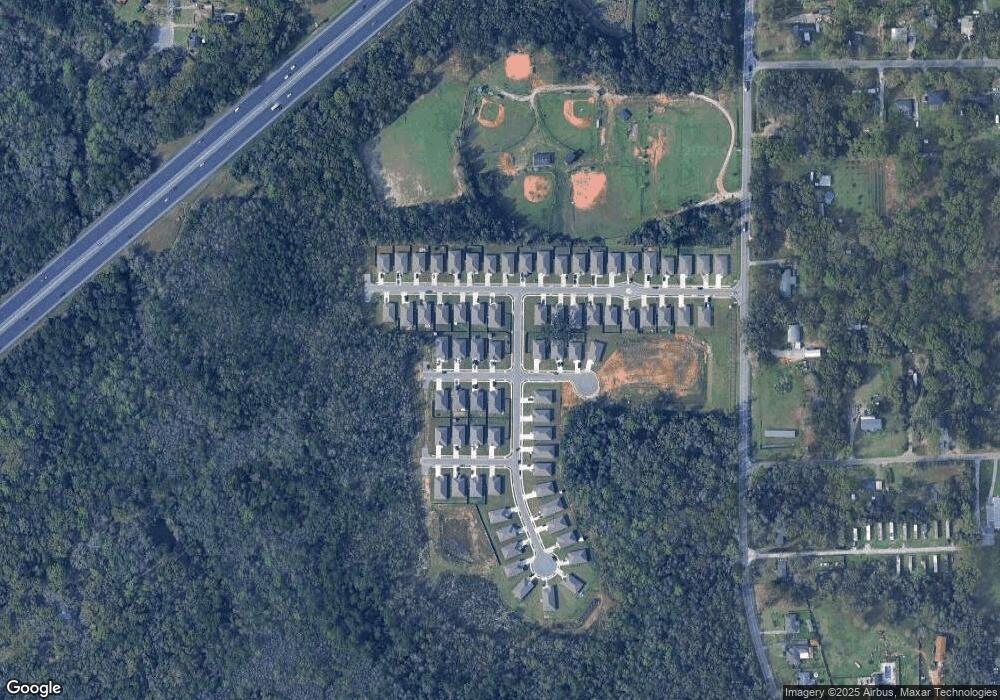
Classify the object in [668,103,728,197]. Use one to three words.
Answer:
sports field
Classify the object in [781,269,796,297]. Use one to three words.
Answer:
house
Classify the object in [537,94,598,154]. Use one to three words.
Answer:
baseball field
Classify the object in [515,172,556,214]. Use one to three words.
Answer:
baseball field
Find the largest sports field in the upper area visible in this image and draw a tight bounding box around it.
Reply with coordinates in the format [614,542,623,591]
[384,80,468,205]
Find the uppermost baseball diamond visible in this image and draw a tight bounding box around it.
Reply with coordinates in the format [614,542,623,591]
[493,51,535,94]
